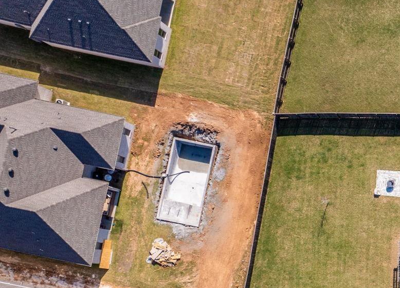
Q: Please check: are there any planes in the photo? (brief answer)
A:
No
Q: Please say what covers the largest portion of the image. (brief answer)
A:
grass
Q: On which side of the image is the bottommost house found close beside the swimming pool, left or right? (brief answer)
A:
left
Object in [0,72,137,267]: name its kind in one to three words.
house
